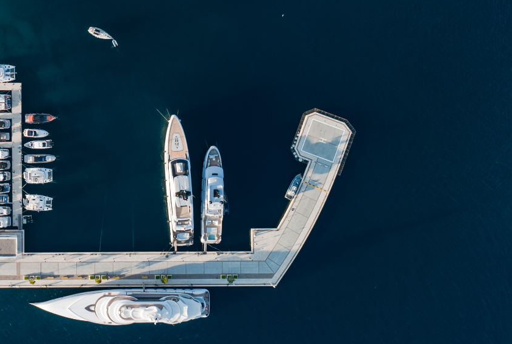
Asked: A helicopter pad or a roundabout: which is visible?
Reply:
helicopter pad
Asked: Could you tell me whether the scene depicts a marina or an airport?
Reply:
marina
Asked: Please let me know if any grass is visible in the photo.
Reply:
No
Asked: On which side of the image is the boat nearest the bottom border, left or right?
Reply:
left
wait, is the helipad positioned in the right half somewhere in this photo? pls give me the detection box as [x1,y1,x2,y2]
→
[290,107,357,176]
